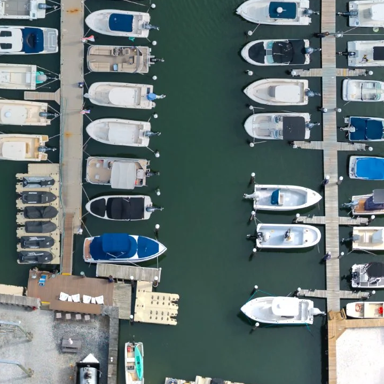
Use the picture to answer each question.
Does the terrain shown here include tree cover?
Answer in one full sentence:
No, there is no tree cover in the image.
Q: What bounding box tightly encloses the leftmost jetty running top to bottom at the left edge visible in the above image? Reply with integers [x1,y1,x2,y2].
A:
[17,163,60,264]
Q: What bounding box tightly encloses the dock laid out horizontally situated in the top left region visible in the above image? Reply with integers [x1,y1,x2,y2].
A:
[24,91,59,104]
